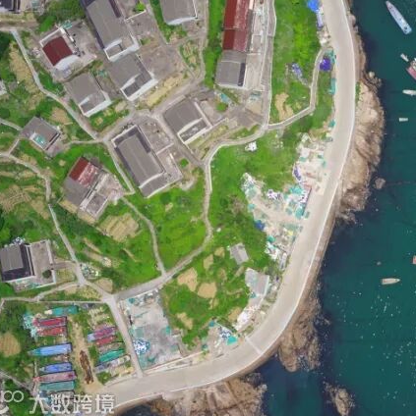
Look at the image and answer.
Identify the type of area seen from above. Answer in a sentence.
It's a residential area.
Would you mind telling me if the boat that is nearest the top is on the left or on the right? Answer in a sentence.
The boat that is nearest the top appears in the right half of the scene.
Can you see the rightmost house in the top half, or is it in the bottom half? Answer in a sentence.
It is in the bottom half that the rightmost house appears.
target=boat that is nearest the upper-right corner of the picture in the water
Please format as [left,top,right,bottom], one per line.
[387,1,411,34]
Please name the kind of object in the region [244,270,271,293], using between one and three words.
house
